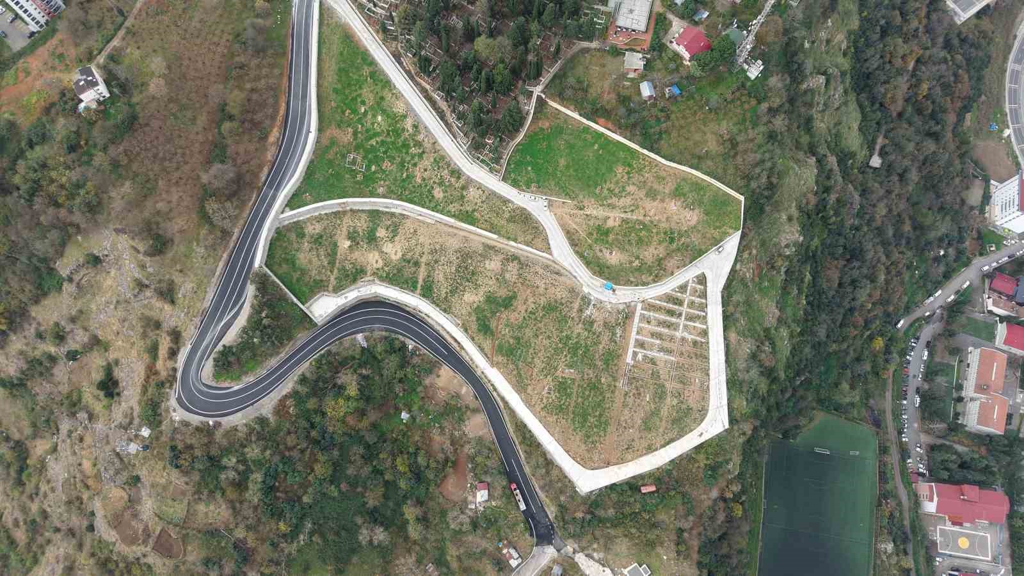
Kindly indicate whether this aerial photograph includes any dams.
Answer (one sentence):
No, there's no dam here.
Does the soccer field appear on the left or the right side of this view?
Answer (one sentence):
The soccer field sits on the right side.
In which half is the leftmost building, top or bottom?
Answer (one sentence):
The leftmost building sits in the top half of the picture.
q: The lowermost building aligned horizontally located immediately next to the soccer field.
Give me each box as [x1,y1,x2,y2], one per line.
[918,482,1009,525]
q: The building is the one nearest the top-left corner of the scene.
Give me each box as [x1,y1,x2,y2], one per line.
[6,0,61,29]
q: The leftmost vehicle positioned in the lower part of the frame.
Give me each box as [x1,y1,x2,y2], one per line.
[511,485,526,512]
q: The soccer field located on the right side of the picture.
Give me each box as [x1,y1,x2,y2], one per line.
[757,410,878,576]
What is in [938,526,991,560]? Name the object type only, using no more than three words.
basketball court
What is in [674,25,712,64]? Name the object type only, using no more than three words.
house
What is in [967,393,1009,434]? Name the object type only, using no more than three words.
building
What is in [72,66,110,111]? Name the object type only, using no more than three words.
house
